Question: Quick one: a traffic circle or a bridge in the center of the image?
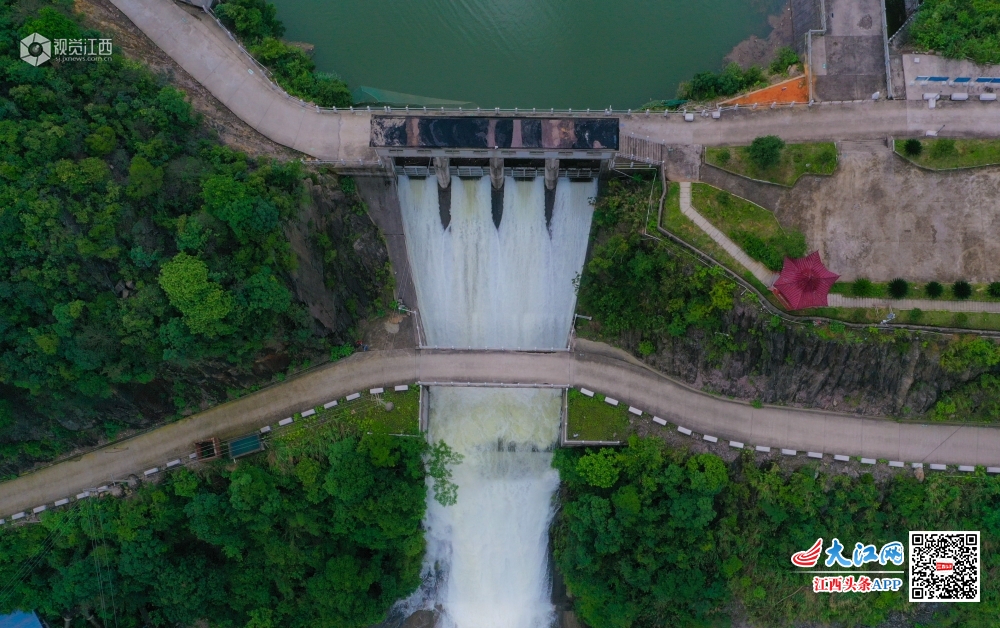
bridge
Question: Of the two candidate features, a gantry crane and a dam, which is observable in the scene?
dam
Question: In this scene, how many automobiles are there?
0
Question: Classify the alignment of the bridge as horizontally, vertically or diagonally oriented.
horizontally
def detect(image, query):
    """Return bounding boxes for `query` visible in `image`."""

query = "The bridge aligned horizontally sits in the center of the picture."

[415,346,576,388]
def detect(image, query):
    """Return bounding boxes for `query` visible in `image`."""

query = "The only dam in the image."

[319,105,726,347]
